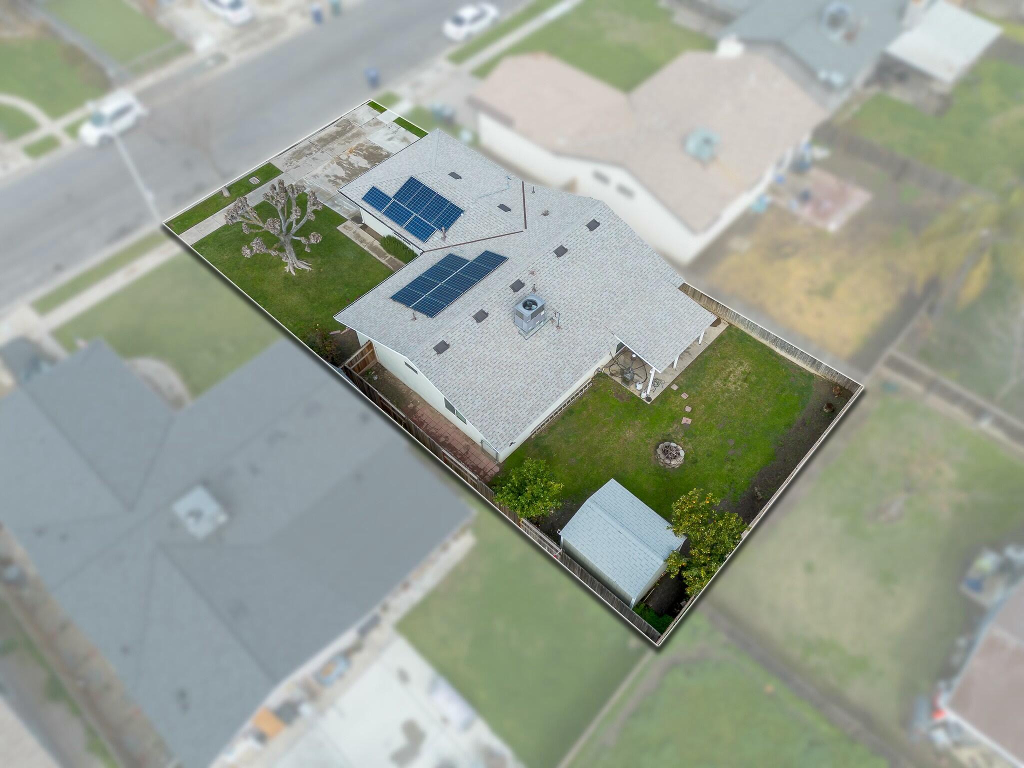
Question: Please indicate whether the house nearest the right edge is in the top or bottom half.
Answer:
bottom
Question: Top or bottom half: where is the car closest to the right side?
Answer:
top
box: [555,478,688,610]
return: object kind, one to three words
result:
shed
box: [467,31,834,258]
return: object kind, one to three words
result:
house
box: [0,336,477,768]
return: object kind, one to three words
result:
house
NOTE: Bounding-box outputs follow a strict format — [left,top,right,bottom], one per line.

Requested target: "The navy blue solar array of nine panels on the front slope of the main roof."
[390,250,507,317]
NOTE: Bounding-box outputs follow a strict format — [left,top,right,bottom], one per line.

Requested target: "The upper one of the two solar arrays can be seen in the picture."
[361,176,464,243]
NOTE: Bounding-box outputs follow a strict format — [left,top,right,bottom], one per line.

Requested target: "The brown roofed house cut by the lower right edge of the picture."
[932,557,1024,768]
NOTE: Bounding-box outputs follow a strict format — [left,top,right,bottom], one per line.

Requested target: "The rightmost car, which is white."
[442,6,499,45]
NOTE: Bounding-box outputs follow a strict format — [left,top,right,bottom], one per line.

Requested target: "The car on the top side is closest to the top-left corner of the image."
[75,93,157,151]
